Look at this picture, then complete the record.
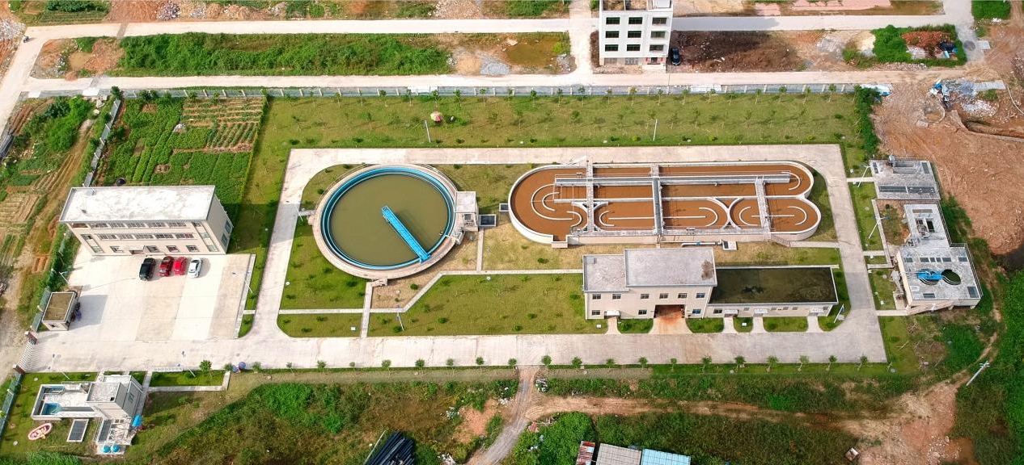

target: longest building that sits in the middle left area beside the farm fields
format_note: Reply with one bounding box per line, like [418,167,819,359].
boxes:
[58,186,234,261]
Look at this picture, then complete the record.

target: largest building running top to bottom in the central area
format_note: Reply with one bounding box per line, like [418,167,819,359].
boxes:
[452,191,478,248]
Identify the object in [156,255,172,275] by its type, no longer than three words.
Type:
car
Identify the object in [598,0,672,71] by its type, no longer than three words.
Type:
house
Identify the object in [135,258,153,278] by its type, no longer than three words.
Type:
car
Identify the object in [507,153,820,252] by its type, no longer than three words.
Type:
storage tank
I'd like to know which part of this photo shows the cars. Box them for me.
[156,255,172,275]
[670,48,679,63]
[186,258,201,276]
[171,256,186,274]
[135,258,153,278]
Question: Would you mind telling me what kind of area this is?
industrial area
